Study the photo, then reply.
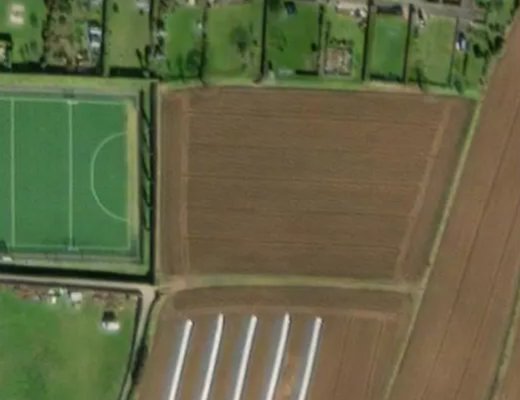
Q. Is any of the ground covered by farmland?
Yes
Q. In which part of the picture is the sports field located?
left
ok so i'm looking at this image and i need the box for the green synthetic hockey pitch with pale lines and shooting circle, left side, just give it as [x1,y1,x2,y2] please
[0,88,141,262]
